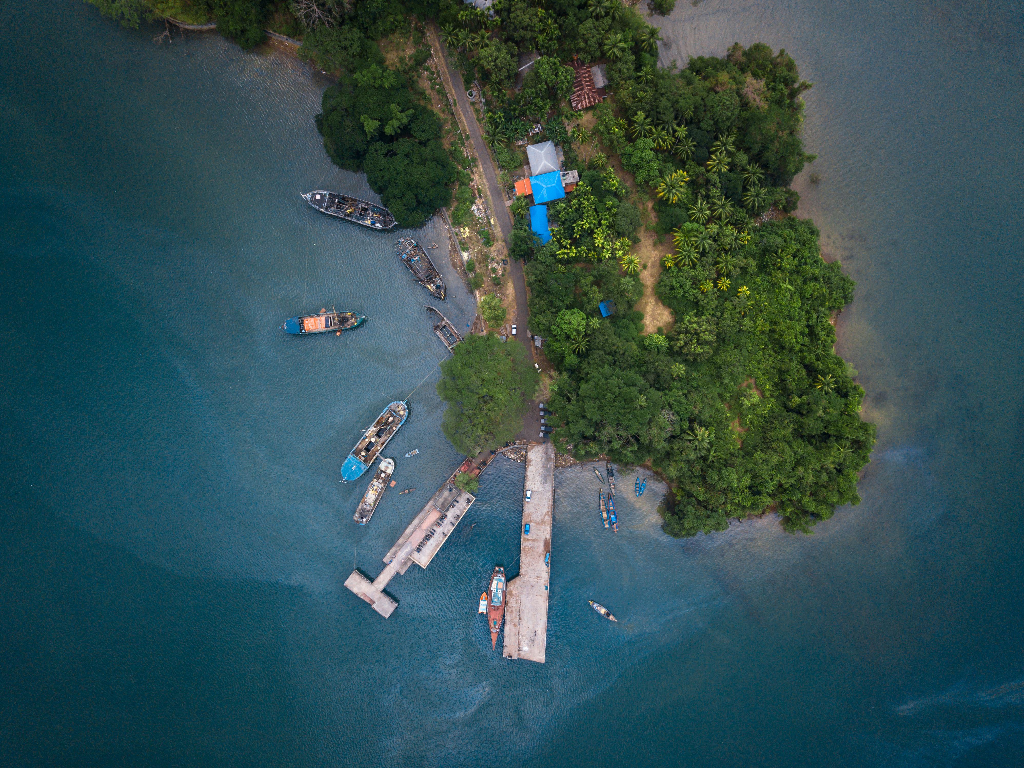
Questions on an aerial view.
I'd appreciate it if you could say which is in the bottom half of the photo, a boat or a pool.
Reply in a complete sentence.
Looking in the bottom half of the photo, you will find a boat.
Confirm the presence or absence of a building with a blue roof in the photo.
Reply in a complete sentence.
Yes, looking at the shot, I can spot a building with a blue roof.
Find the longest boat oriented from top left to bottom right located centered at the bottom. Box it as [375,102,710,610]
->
[589,601,618,622]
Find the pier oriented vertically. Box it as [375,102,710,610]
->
[503,443,555,663]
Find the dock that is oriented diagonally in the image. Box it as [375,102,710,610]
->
[344,482,475,618]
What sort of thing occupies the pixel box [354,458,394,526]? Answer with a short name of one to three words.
boat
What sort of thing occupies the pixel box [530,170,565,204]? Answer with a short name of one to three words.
house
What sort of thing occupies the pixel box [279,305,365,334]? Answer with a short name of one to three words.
boat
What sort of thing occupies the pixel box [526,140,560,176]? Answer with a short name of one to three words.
house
